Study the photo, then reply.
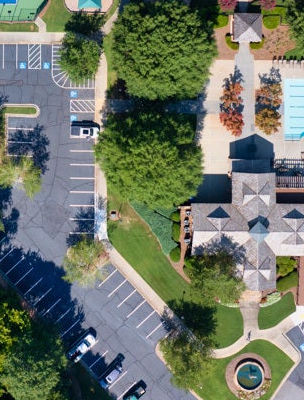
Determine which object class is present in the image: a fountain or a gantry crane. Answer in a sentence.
There is a fountain in the scene.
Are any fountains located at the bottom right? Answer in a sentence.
Yes, a fountain appears at the bottom right.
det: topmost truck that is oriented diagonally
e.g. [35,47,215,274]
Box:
[69,334,95,363]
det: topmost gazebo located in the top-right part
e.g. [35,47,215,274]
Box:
[230,13,262,42]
